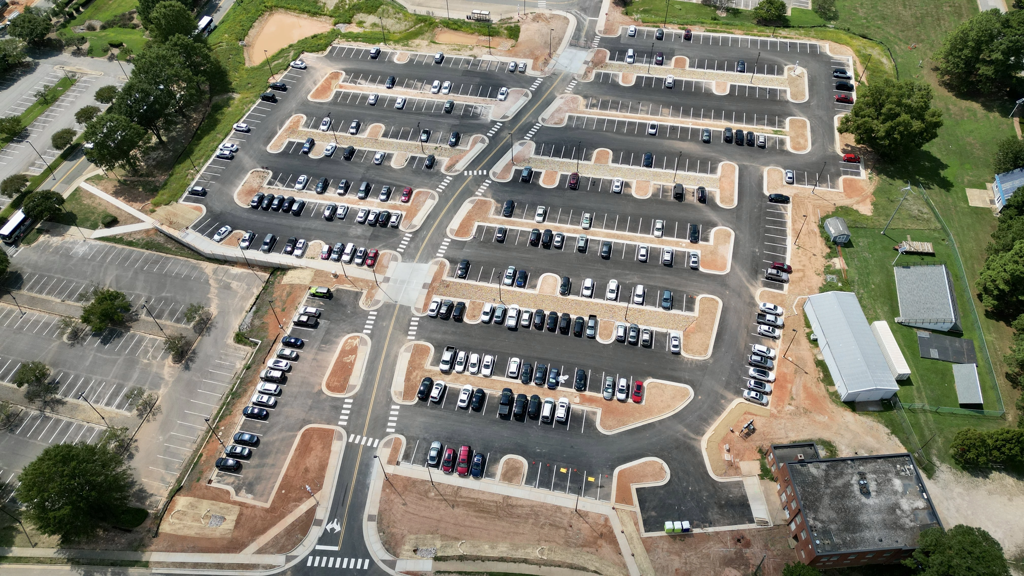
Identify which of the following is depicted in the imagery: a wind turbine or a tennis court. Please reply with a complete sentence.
There is a wind turbine in the scene.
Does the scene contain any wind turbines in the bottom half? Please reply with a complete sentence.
No, no wind turbine is visible in the bottom half.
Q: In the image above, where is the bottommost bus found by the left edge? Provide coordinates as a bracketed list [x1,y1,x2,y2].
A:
[0,201,32,245]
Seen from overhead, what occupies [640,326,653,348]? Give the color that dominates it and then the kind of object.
gray vehicle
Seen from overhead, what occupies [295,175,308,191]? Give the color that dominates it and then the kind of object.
white vehicle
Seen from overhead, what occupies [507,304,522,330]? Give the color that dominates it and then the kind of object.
white vehicle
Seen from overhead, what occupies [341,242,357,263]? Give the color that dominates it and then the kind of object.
white car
